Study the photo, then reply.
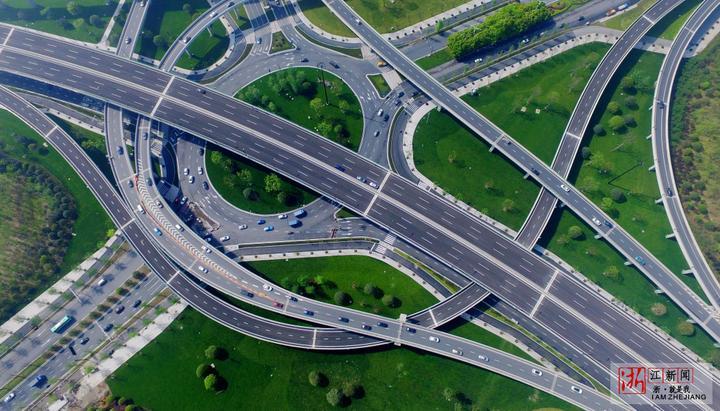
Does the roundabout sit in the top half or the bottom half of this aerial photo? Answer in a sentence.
You can find the roundabout in the top half.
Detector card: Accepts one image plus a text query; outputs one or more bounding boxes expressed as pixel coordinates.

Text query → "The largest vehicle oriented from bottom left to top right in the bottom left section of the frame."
[48,314,72,333]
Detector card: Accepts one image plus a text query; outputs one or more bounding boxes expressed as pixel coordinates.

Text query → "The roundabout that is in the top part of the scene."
[173,25,412,251]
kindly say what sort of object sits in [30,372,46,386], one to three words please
vehicle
